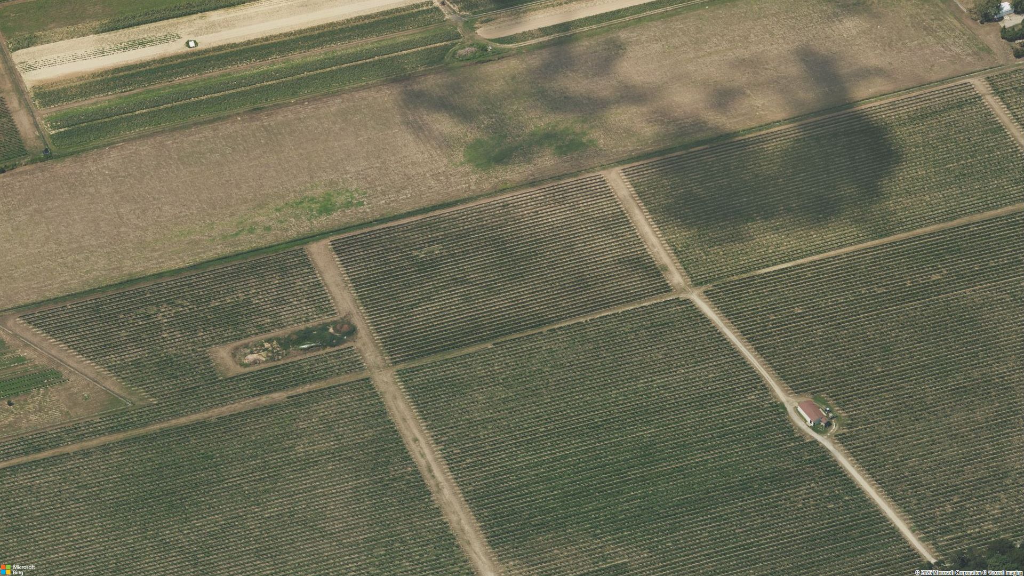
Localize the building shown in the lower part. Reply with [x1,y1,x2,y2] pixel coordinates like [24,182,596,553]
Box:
[795,396,829,425]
